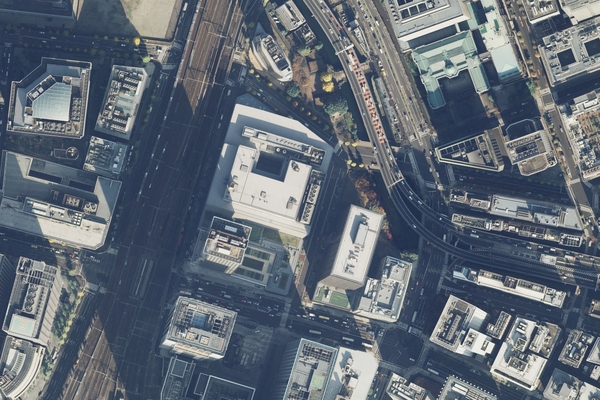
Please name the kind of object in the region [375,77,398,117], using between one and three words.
building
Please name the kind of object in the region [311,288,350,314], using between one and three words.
building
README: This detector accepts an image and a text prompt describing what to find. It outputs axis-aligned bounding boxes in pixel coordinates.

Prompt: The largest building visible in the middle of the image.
[204,104,334,242]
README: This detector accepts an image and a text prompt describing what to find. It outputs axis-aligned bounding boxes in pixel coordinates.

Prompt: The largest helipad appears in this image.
[9,314,36,337]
